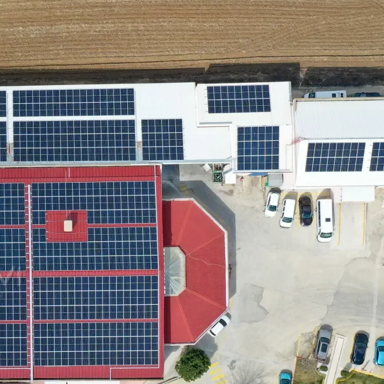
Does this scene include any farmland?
Yes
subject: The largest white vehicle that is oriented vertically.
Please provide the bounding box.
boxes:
[315,199,333,241]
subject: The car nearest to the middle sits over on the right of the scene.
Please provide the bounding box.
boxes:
[264,189,279,217]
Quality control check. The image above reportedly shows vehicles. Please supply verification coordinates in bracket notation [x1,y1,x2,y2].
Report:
[299,196,314,226]
[374,338,384,364]
[278,371,290,384]
[279,198,297,229]
[264,189,279,217]
[315,199,333,241]
[352,333,367,363]
[316,330,331,360]
[208,312,234,340]
[303,86,350,100]
[351,87,381,100]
